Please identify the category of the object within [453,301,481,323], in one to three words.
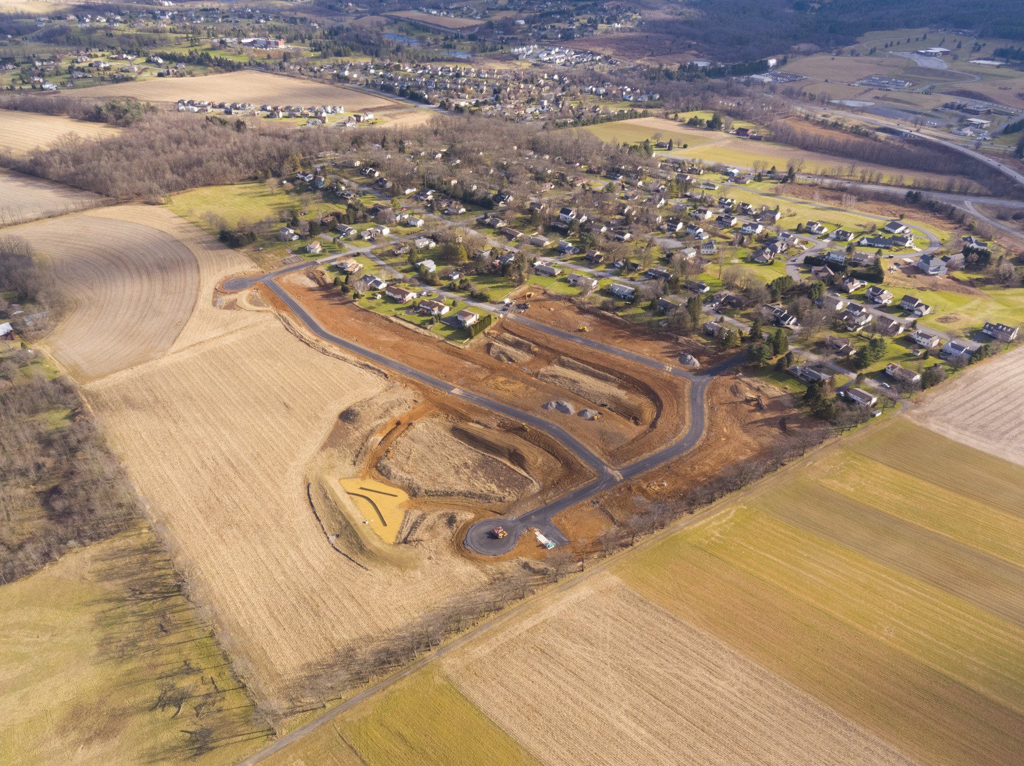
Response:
house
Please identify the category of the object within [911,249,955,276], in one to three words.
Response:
house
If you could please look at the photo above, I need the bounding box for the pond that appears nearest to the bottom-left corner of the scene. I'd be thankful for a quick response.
[340,480,410,543]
